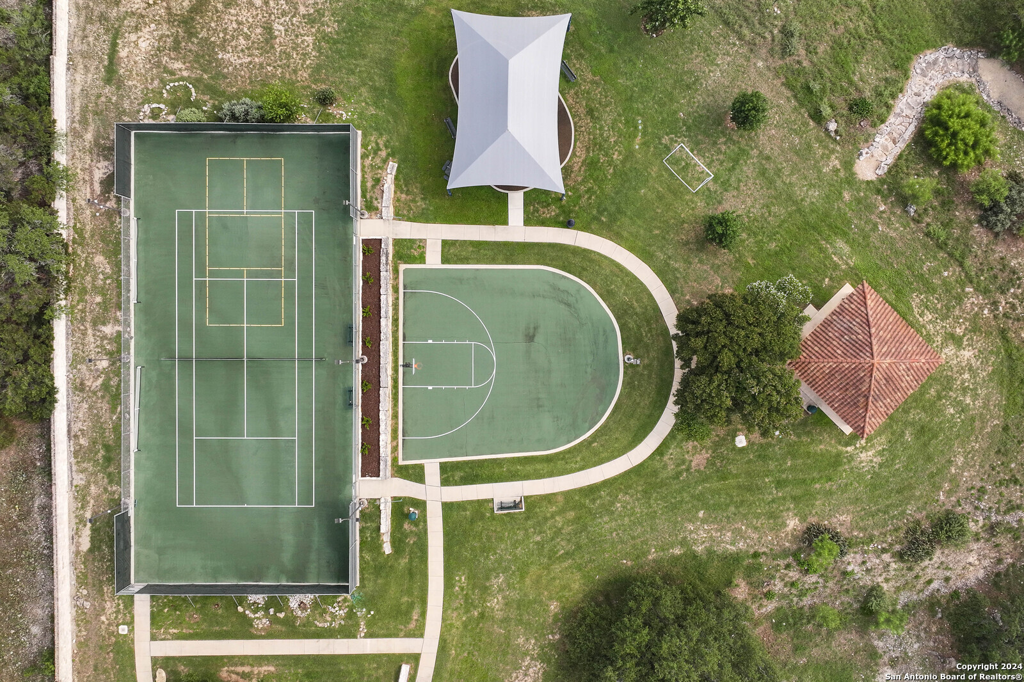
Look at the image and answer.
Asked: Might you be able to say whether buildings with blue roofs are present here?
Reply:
No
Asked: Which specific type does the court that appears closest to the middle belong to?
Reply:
basketball court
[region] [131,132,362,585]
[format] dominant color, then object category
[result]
green tennis court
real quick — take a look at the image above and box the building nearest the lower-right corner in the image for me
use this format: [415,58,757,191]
[779,281,944,439]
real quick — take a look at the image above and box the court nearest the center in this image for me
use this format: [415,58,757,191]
[400,265,623,465]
